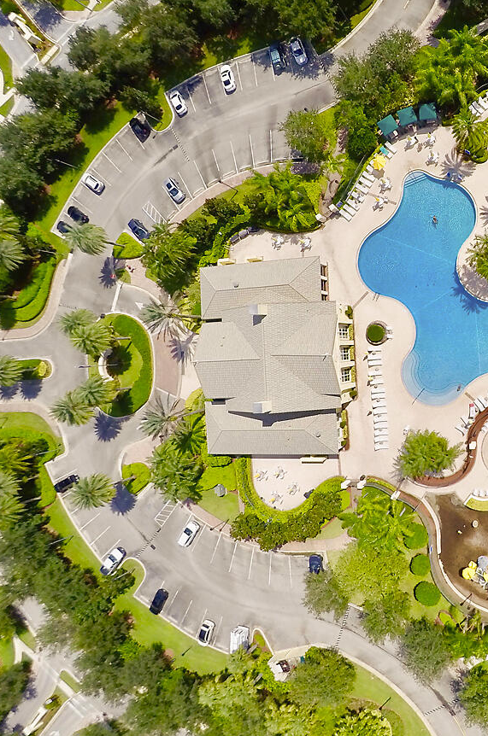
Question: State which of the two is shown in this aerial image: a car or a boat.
car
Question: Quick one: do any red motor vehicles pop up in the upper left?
No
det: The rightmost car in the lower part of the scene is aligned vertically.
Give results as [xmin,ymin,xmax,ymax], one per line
[306,548,321,579]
